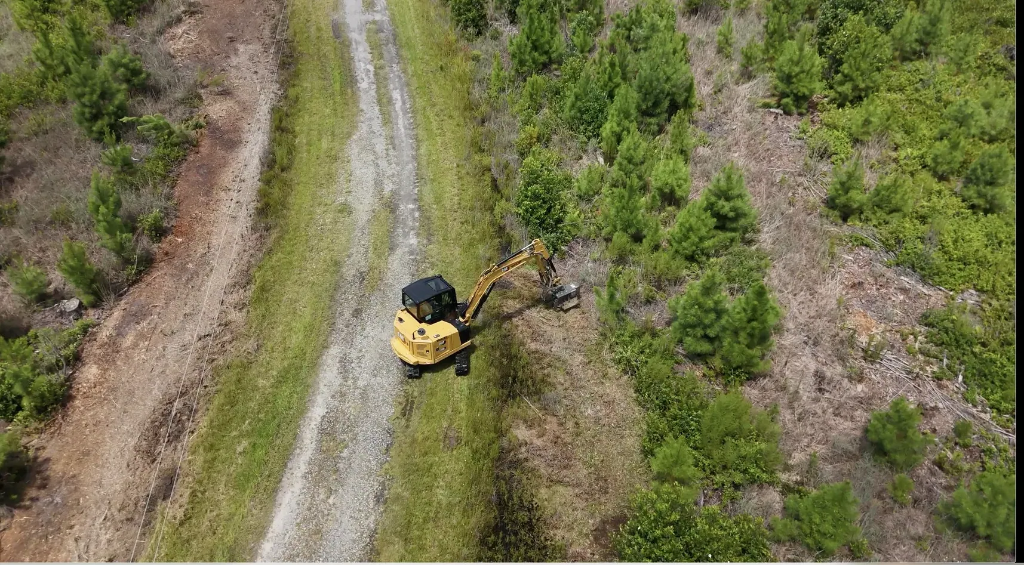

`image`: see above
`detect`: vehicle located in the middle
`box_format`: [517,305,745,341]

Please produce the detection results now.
[391,237,583,376]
